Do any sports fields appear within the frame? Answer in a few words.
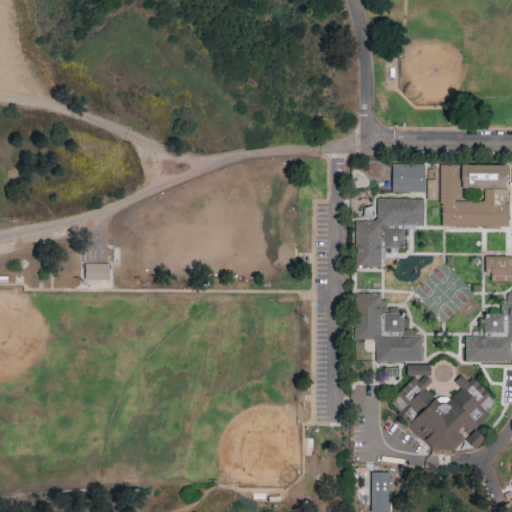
Yes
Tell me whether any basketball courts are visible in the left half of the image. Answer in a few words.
No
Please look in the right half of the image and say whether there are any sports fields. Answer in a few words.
Yes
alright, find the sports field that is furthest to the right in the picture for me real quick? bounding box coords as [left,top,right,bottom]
[401,0,512,105]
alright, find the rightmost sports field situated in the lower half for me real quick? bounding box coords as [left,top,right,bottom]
[170,292,302,487]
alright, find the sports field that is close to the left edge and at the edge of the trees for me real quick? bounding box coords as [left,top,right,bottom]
[0,290,170,487]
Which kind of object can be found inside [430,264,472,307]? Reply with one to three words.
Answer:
basketball court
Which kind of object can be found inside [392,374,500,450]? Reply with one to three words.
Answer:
building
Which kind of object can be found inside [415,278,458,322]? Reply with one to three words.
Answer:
basketball court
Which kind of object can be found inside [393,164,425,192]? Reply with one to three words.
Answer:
building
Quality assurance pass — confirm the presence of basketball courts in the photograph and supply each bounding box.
[430,264,472,307]
[415,278,458,322]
